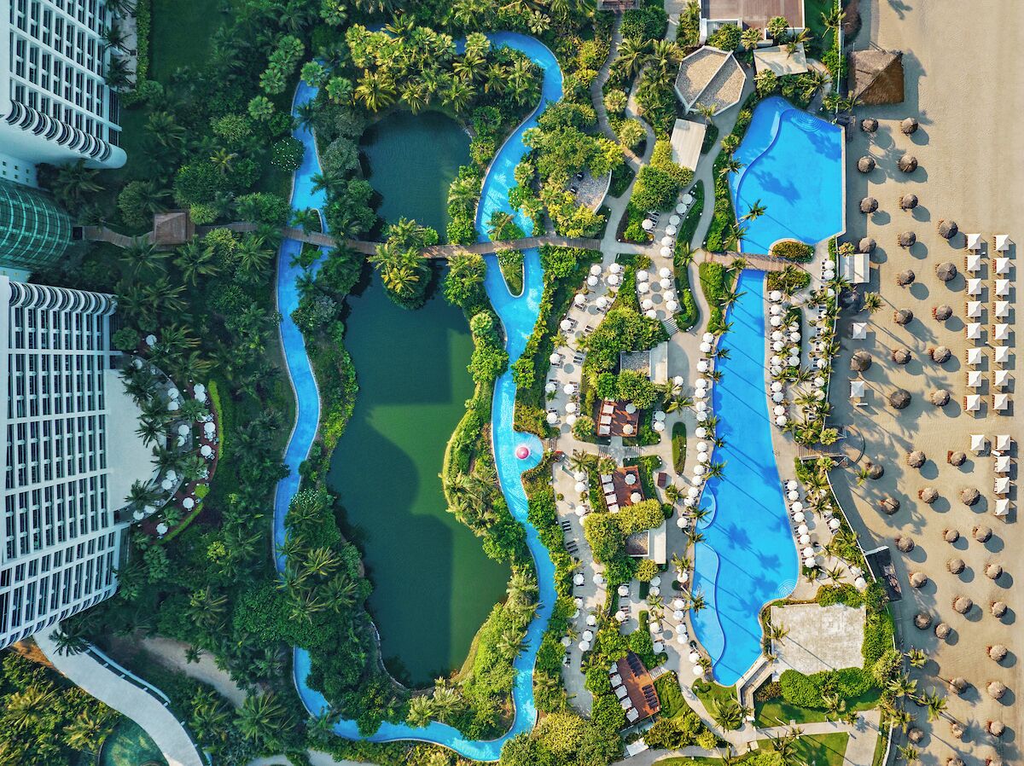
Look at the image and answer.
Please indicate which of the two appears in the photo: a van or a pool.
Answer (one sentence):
The image shows a pool.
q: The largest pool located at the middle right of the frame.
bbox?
[687,94,845,688]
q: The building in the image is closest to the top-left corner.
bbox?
[0,0,122,167]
